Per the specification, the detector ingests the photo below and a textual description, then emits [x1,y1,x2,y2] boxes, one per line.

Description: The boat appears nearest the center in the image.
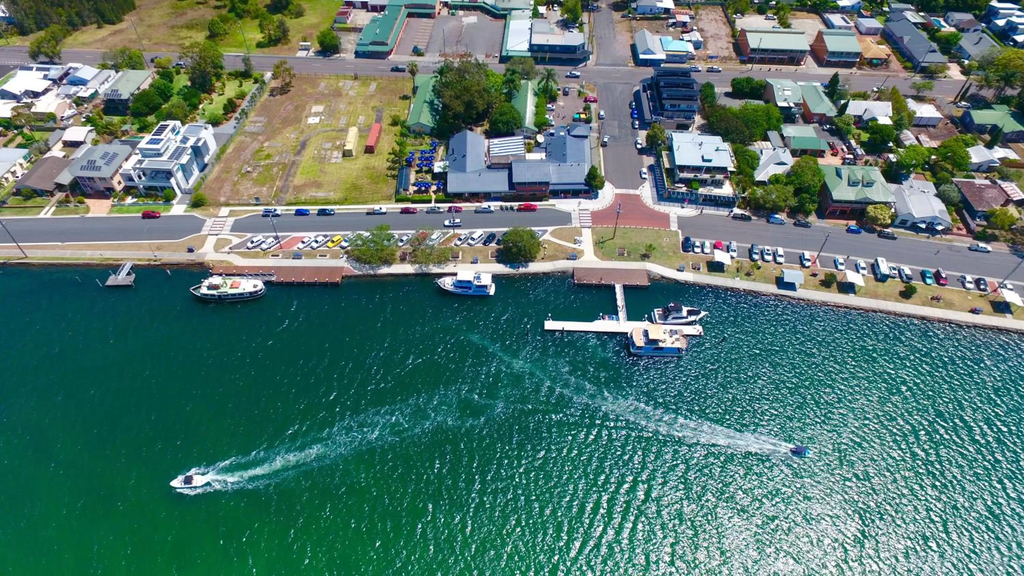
[433,266,496,295]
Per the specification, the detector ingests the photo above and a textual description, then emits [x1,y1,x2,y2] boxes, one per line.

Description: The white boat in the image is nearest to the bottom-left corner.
[168,473,204,486]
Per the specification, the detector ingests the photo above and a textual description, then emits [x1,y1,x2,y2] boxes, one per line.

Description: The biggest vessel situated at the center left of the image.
[182,272,267,299]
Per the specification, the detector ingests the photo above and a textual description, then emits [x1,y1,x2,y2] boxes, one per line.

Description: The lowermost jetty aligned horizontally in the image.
[545,313,703,337]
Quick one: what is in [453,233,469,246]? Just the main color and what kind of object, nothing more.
white vehicle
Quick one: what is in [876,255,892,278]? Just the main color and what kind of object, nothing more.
white camper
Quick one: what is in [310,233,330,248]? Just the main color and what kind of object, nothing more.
white vehicle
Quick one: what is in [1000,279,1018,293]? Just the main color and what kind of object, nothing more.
white car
